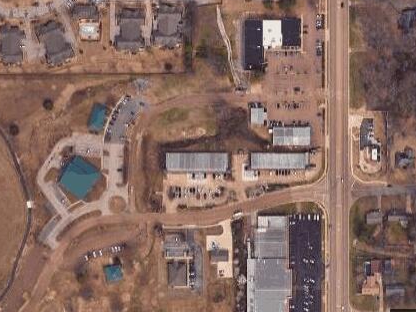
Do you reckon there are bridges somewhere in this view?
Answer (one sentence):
No, no bridge can be seen from above.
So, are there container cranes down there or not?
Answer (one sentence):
No, no container crane can be seen from above.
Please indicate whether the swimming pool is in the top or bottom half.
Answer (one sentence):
The top half of the photo is where the swimming pool is.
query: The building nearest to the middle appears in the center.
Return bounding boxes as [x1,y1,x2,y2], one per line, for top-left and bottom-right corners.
[167,153,229,171]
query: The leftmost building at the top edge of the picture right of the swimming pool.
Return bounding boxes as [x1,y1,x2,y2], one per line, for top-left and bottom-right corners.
[115,6,145,53]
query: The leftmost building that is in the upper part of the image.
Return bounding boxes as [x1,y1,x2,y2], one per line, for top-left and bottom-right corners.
[0,23,27,67]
